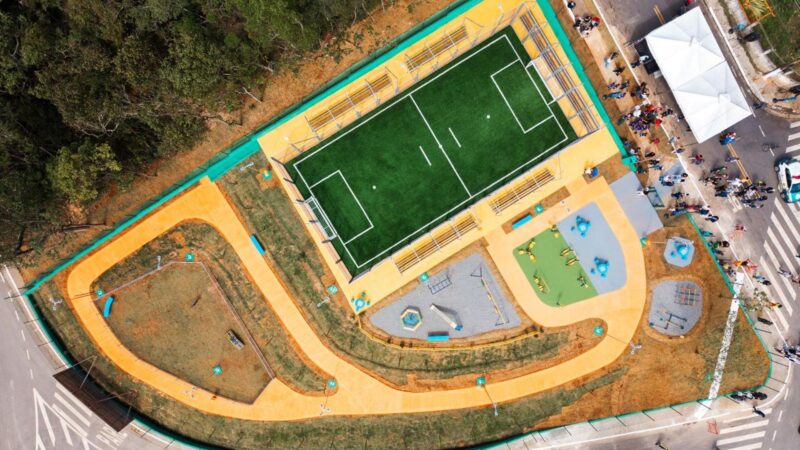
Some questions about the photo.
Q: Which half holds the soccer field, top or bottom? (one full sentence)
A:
The soccer field is in the top half of the image.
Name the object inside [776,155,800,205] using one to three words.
car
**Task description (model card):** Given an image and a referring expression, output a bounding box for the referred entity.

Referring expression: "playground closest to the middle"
[368,251,520,338]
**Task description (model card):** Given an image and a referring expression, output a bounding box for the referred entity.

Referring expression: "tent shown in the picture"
[628,6,752,148]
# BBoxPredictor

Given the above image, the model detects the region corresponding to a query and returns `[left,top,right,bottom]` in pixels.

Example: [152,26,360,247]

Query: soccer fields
[257,0,620,312]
